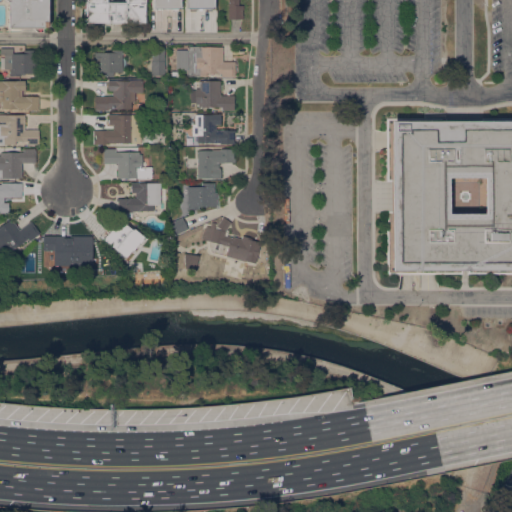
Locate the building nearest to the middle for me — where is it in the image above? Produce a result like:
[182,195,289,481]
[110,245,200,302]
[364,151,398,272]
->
[204,220,262,263]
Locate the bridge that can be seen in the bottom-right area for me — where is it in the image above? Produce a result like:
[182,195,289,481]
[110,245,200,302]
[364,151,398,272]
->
[353,371,512,490]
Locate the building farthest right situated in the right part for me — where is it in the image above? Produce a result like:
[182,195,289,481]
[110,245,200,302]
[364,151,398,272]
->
[394,120,512,272]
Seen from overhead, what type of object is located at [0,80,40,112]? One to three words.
house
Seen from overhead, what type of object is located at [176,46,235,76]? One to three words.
house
